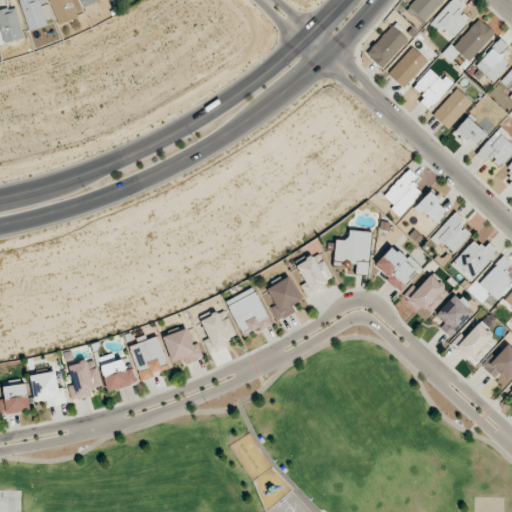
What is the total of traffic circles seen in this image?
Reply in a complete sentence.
I count no traffic circles.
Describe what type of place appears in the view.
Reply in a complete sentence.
What you see here is a residential area.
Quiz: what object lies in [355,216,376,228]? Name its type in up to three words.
swimming pool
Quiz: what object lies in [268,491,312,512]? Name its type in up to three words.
basketball court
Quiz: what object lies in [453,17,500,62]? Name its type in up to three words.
house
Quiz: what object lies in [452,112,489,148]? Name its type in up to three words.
house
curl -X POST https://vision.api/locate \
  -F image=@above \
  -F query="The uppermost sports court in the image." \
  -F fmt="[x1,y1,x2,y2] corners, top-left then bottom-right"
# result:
[230,433,272,480]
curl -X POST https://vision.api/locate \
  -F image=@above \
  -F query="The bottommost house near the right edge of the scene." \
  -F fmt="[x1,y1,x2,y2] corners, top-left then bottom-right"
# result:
[482,342,512,385]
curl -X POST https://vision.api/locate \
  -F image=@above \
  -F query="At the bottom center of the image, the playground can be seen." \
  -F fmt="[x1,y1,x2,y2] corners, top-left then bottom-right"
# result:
[254,468,292,512]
